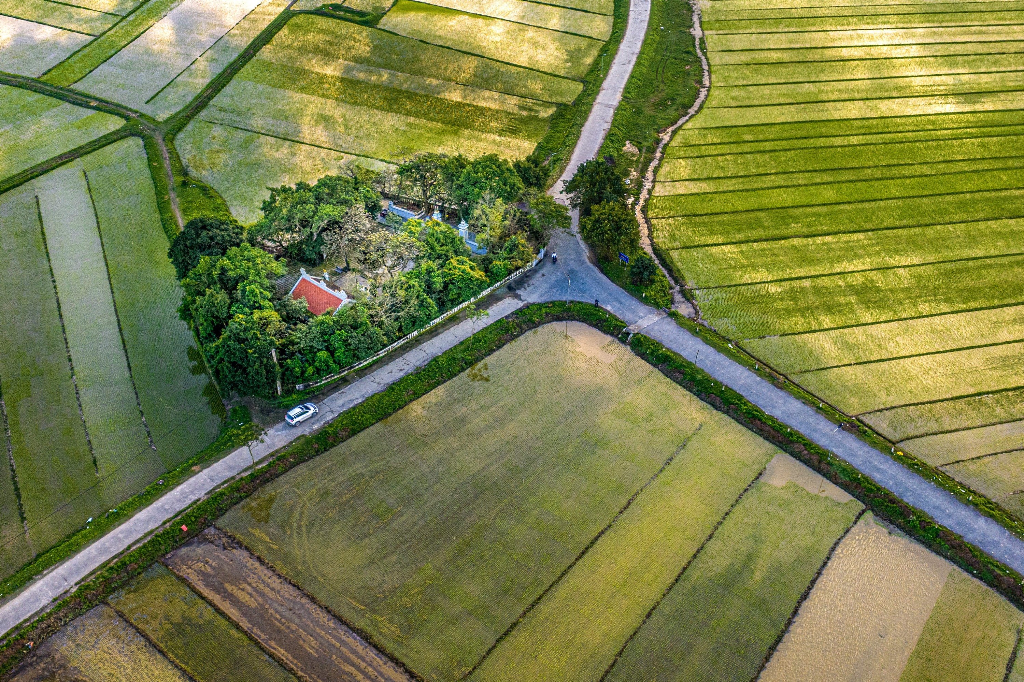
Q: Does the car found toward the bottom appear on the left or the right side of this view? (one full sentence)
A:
The car found toward the bottom sits on the left side.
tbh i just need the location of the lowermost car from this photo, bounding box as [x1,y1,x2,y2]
[282,403,319,428]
